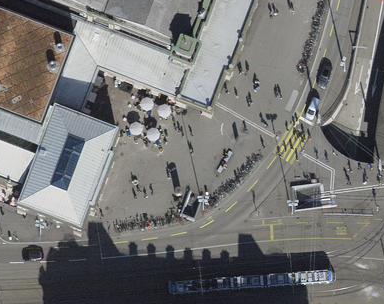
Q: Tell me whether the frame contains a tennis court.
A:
No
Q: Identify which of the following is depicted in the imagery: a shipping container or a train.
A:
train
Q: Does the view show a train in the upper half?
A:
No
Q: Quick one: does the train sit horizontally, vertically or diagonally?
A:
horizontally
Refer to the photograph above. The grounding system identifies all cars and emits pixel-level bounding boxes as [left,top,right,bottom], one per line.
[306,98,320,122]
[23,248,44,258]
[318,62,332,86]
